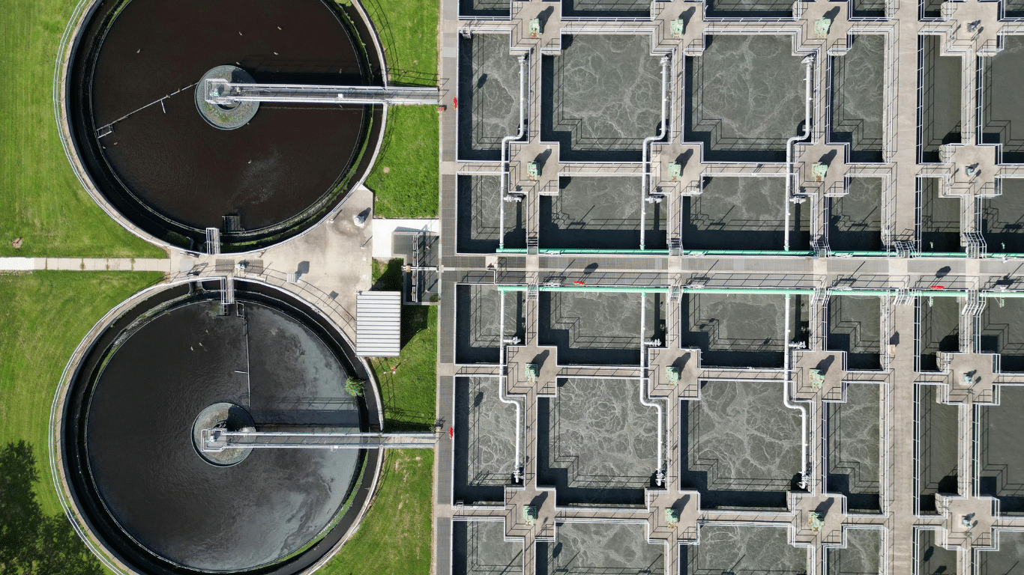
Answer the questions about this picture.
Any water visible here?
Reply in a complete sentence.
Yes, there's water in this view.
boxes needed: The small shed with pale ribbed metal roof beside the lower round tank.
[356,290,401,358]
